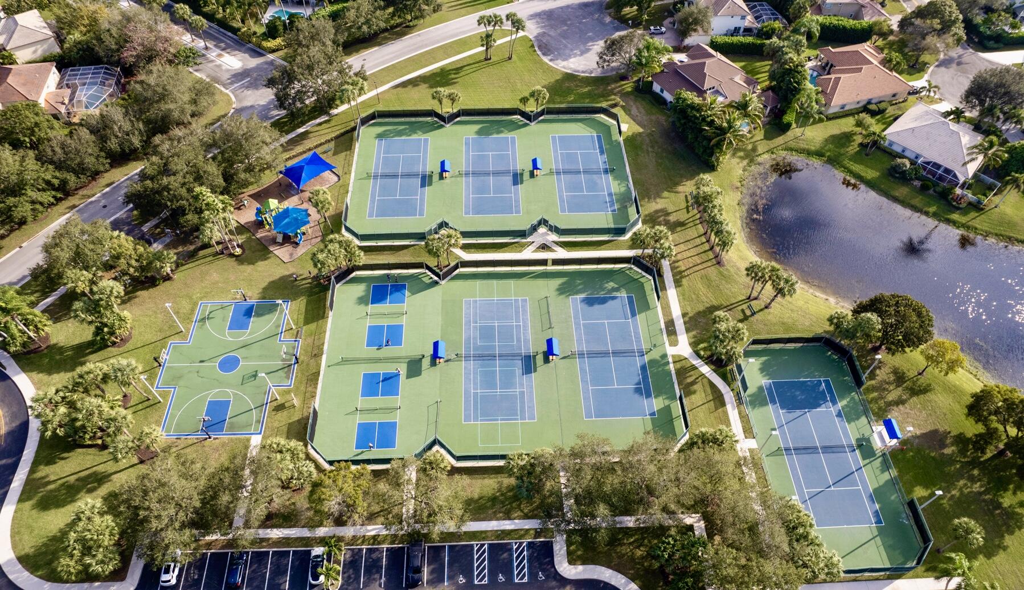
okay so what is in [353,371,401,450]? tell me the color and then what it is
blue sports court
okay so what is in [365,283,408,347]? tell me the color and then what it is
blue sports court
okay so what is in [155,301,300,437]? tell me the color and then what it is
green basketball court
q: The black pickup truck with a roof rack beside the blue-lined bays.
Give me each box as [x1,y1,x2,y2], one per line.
[405,539,424,586]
